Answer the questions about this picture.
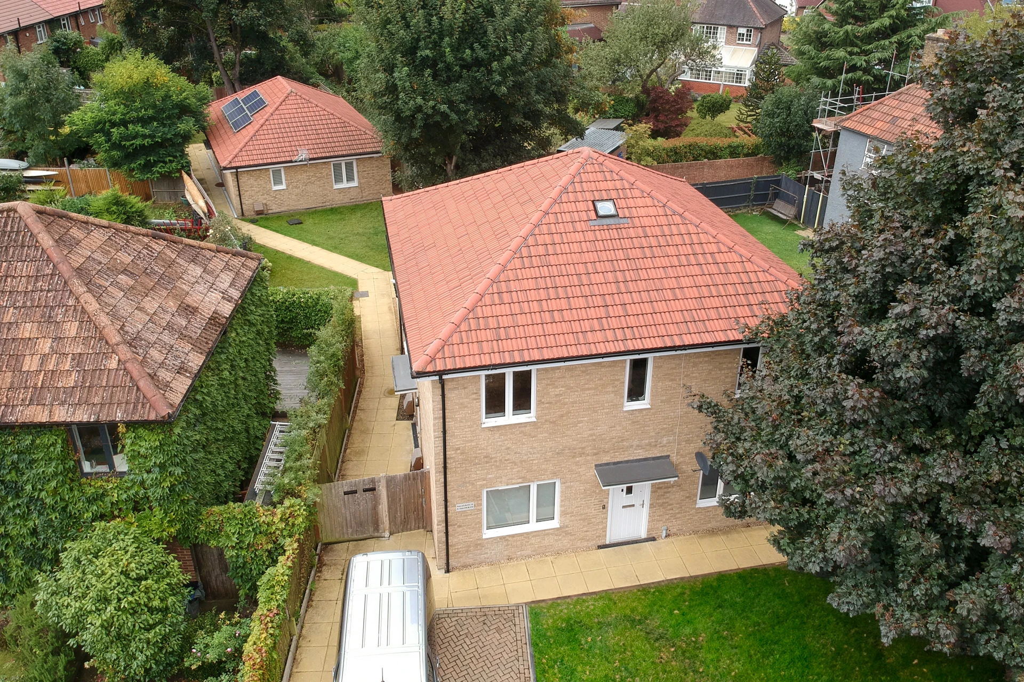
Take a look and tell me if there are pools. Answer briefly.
No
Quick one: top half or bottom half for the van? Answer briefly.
bottom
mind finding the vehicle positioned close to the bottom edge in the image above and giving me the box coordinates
[335,551,441,682]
